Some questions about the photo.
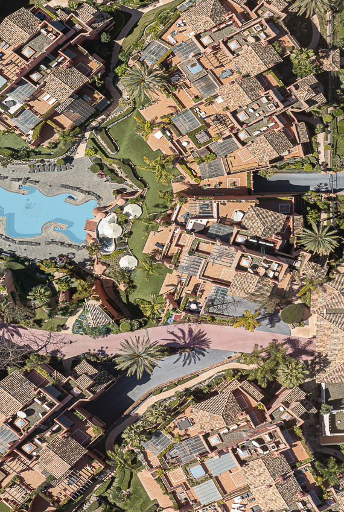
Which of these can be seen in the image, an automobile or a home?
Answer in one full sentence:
There is a home in the scene.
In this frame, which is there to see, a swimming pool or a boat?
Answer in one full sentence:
Of the two, only a swimming pool appears.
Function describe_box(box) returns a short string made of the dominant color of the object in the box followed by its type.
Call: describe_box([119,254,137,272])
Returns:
white umbrella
